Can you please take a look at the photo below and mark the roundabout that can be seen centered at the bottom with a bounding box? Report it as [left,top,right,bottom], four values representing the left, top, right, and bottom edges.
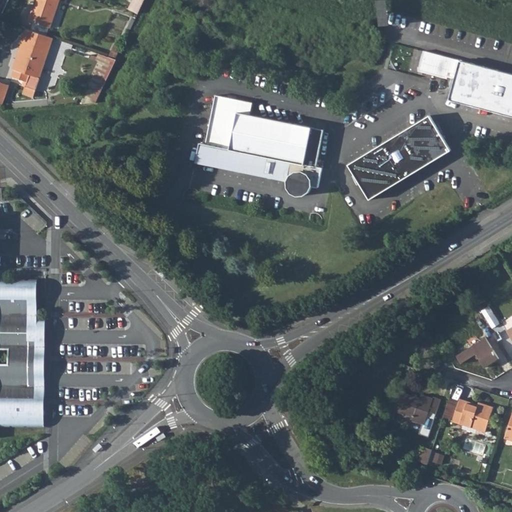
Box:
[177,331,281,435]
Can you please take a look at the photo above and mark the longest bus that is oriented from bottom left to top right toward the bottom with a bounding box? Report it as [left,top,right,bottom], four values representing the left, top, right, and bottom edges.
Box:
[134,427,161,448]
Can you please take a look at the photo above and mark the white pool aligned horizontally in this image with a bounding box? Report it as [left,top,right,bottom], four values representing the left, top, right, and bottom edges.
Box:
[462,440,487,456]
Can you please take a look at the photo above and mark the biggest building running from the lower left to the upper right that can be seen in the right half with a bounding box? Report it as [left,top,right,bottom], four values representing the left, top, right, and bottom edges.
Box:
[347,116,450,200]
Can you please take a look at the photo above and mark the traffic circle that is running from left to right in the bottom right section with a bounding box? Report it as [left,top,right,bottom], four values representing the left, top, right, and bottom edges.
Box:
[408,482,480,512]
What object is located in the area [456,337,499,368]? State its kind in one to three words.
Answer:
house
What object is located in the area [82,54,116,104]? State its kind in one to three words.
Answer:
shed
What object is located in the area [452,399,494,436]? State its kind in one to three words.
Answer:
house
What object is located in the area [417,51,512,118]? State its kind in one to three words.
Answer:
building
